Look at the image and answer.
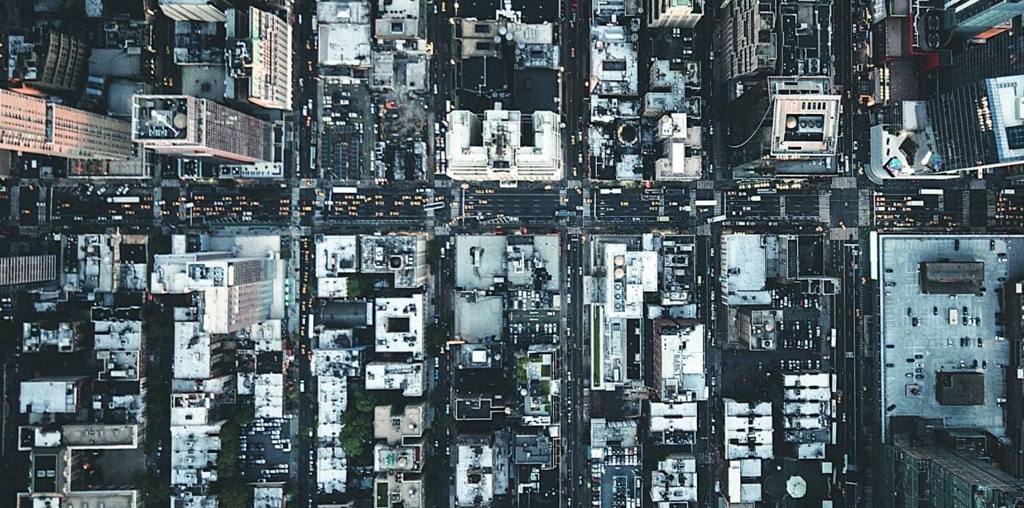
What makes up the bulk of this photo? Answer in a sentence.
The largest share of the image is taken up by buildings.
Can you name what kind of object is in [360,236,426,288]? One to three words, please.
building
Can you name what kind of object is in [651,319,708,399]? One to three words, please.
building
